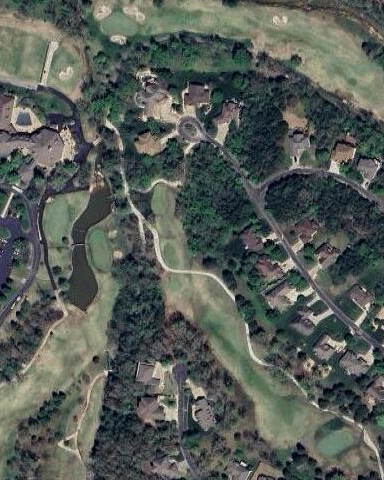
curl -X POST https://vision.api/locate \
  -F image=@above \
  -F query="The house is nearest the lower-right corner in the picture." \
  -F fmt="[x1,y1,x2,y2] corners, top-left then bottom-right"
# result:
[364,375,384,399]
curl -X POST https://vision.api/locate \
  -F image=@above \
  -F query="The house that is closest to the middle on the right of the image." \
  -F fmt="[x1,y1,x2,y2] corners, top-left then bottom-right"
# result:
[239,227,265,252]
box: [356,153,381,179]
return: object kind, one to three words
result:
house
